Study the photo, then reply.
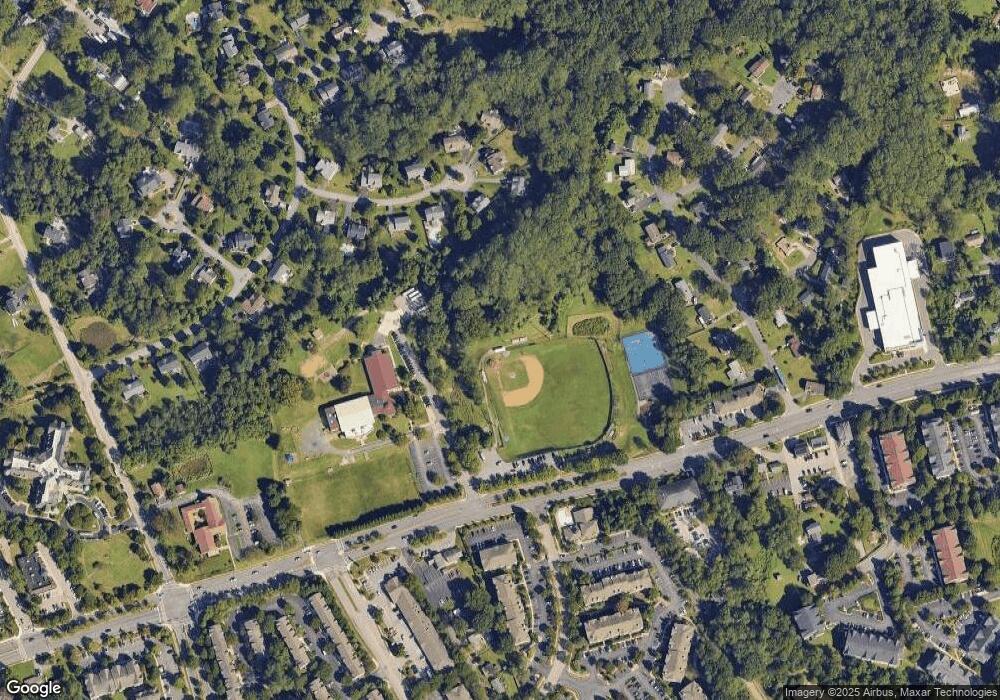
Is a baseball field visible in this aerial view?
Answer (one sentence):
Yes, this view includes a baseball field.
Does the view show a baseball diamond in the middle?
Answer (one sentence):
Yes, you'll find a baseball diamond in the middle.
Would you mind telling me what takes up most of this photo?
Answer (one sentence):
The largest share of the image is taken up by trees.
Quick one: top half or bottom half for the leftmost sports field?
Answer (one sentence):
The leftmost sports field is in the bottom half of the image.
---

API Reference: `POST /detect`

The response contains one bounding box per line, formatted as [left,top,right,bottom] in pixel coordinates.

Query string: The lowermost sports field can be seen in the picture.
[291,448,417,540]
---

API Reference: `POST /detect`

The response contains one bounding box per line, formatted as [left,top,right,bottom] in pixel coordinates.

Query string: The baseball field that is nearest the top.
[481,337,612,463]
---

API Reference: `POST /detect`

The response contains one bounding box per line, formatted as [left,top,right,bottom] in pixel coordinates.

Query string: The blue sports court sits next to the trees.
[622,330,667,375]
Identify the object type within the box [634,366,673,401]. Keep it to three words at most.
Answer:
sports court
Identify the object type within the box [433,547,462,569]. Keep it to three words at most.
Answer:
building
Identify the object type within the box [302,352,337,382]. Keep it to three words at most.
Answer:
playground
